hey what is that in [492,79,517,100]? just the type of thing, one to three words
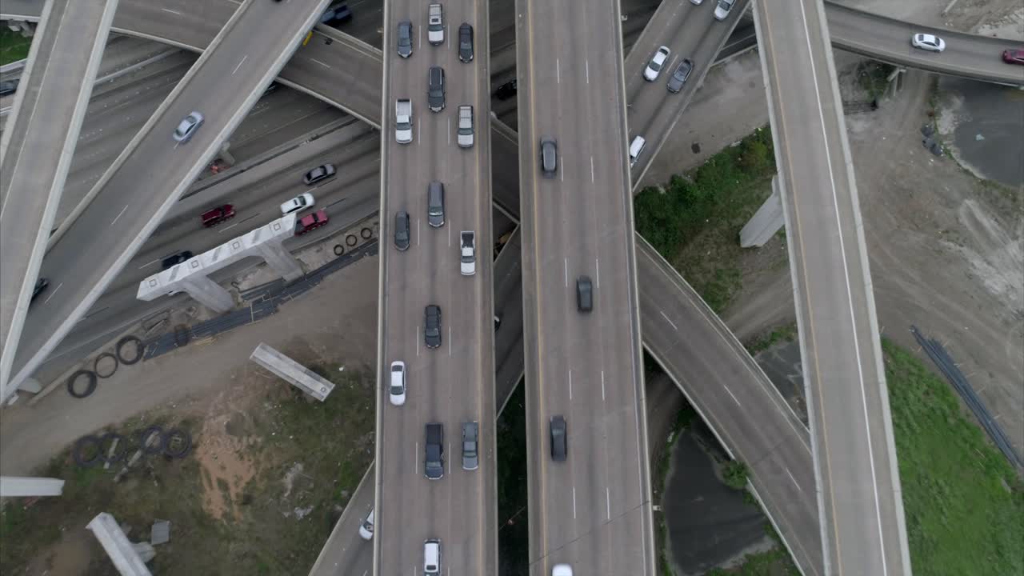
car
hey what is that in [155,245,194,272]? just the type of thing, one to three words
truck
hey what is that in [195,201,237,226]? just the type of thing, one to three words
truck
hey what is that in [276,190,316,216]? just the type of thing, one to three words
car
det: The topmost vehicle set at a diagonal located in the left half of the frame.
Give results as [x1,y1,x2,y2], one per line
[319,0,355,24]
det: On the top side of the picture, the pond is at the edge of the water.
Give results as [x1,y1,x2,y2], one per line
[954,82,1024,190]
